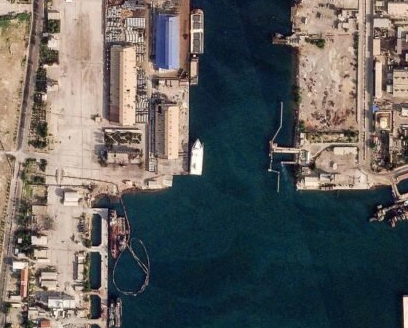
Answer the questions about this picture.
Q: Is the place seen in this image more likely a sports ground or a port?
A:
port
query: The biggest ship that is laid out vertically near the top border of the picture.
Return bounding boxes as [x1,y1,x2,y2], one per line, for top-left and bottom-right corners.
[191,9,203,54]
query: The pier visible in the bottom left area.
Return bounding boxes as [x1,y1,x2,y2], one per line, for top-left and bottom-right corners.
[87,208,108,328]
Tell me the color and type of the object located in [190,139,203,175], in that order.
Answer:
white ship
